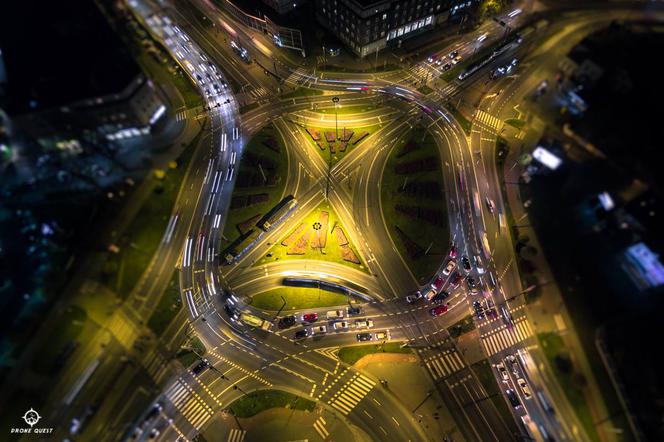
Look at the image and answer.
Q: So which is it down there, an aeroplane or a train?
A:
train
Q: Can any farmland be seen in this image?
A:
No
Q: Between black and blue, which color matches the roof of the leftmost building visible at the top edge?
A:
black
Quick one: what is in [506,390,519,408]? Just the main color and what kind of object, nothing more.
black vehicle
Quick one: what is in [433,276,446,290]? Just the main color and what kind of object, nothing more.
red vehicle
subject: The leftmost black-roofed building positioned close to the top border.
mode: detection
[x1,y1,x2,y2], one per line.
[0,0,164,164]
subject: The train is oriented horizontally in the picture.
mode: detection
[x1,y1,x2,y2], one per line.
[282,275,371,301]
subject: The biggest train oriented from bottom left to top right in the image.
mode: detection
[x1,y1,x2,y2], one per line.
[227,194,300,264]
